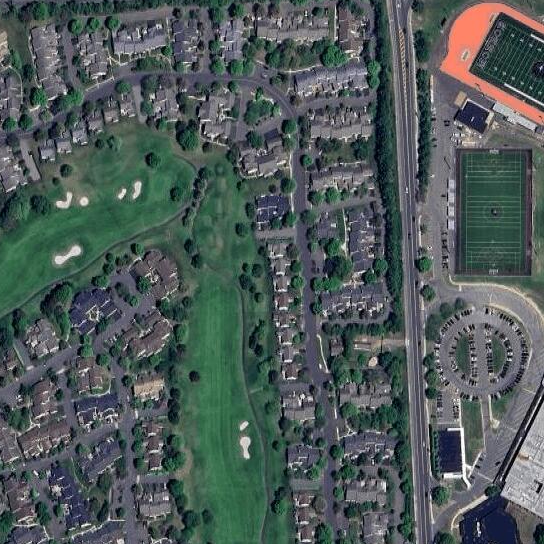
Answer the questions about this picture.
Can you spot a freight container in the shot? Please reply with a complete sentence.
No, I can't see a single freight container in this photo.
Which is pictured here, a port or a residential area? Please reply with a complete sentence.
It's a residential area.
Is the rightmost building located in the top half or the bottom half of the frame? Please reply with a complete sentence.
It is in the bottom half that the rightmost building appears.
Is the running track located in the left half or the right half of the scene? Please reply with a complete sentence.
The running track is on the right side of the image.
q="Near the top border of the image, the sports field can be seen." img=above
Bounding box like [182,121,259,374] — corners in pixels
[469,11,544,111]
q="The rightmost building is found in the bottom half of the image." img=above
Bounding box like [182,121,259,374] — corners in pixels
[501,422,544,523]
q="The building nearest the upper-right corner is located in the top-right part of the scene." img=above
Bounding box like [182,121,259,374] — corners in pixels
[454,93,493,131]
